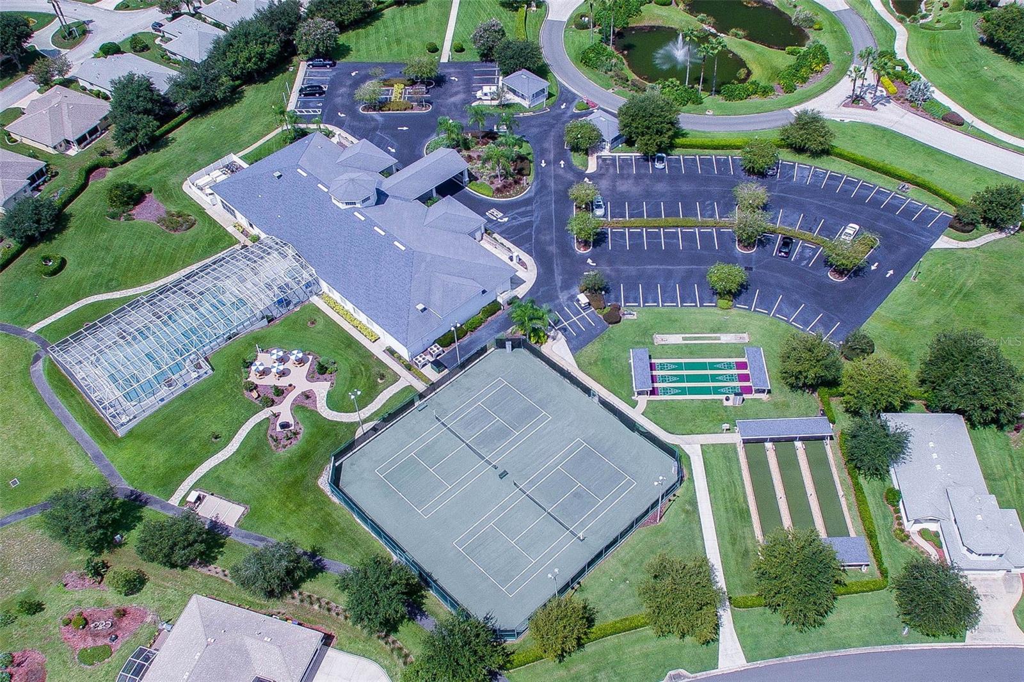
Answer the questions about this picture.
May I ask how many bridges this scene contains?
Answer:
0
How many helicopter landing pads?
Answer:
0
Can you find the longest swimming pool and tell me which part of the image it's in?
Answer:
left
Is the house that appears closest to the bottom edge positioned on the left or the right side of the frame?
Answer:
left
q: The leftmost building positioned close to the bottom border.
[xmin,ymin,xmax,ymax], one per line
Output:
[141,594,324,682]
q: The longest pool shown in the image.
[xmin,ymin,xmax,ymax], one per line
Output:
[101,292,265,411]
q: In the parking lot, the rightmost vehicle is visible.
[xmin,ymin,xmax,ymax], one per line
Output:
[840,222,860,243]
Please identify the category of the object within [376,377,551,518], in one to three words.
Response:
tennis court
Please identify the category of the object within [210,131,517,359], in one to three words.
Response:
building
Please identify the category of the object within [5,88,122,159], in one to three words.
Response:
house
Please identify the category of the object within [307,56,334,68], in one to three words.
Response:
vehicle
